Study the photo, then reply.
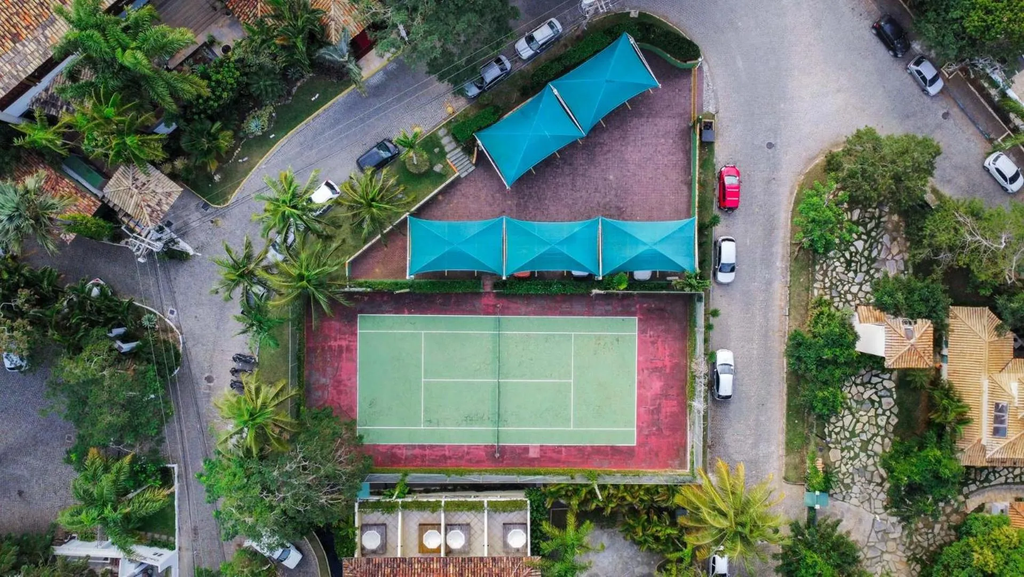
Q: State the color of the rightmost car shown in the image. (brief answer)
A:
white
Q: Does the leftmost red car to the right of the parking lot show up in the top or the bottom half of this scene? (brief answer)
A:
top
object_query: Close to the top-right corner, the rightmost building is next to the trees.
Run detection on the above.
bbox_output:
[983,58,1024,113]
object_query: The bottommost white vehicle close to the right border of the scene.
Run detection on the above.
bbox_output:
[979,149,1024,194]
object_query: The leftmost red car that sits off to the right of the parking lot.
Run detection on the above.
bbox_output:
[716,165,743,212]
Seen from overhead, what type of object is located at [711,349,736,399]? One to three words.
car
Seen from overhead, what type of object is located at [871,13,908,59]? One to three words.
car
